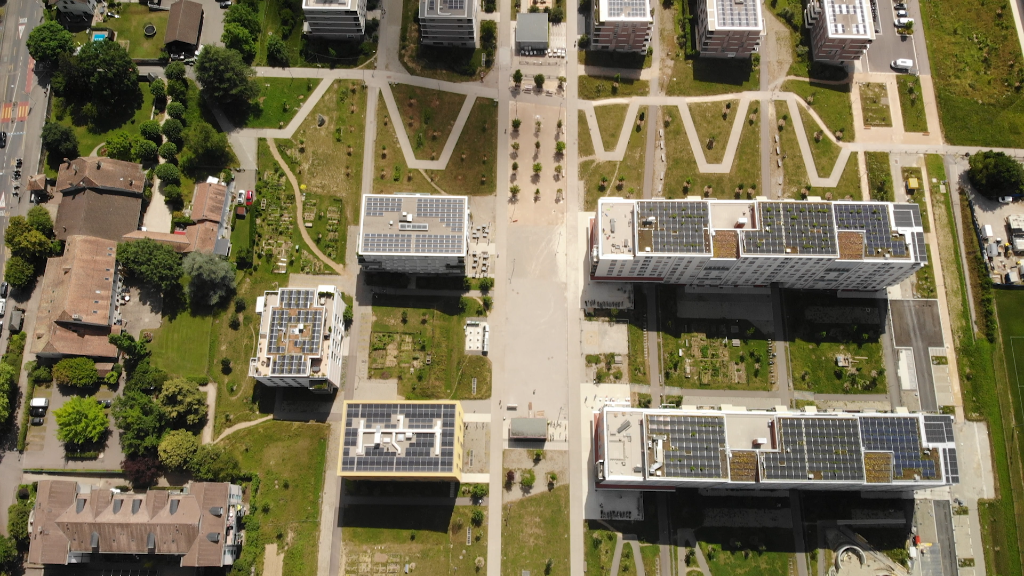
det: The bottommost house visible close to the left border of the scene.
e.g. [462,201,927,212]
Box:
[28,479,244,567]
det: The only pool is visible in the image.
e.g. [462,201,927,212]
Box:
[91,29,117,43]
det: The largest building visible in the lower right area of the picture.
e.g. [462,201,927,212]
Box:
[590,401,959,492]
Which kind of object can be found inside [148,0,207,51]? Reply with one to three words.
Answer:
barn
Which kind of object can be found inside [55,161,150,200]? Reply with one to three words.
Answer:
house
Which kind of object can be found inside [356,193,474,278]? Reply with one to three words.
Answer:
building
